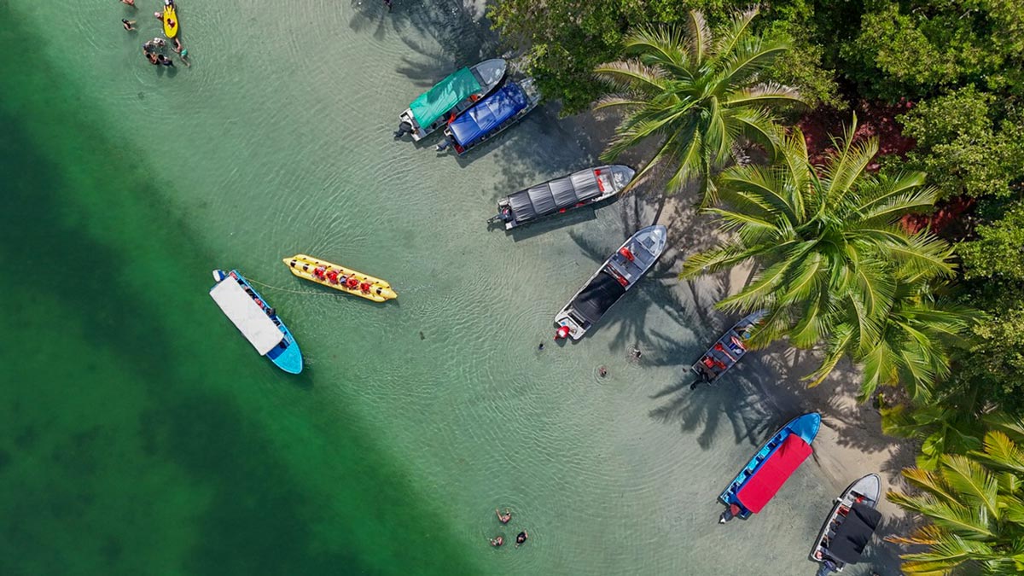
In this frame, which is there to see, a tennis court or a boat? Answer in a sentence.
There is a boat in the scene.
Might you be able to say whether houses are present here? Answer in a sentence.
No, no house is visible in the scene.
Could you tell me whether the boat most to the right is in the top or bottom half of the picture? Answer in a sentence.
The boat most to the right is in the bottom half of the image.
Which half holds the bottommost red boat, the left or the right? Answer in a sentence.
The bottommost red boat sits on the right side.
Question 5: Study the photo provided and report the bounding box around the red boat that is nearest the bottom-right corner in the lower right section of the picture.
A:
[715,413,824,520]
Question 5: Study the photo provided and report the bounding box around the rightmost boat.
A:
[810,471,882,576]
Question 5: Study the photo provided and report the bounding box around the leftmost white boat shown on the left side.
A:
[205,270,306,374]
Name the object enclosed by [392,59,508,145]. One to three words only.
boat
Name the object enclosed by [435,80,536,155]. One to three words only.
boat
